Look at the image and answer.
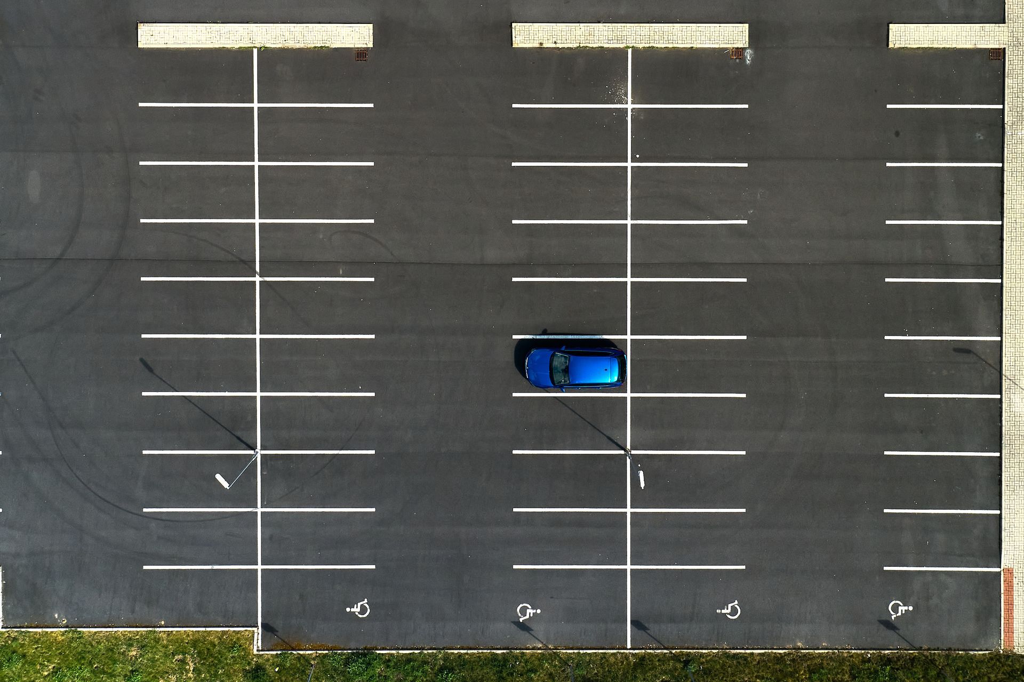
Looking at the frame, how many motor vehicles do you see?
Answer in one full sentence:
In total, there is 1 motor vehicle in the scene.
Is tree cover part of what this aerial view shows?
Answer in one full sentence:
No, the picture contains no tree cover.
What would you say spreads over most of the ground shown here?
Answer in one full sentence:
For the most part, this view shows paved ground.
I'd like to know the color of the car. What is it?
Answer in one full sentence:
In this view, the car is blue.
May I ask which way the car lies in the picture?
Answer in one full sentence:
In this picture, the car lies from left to right.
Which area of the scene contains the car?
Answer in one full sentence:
You can find the car in the center area of the picture.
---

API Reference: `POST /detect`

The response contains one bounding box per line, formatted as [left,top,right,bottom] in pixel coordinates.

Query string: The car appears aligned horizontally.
[525,344,627,394]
